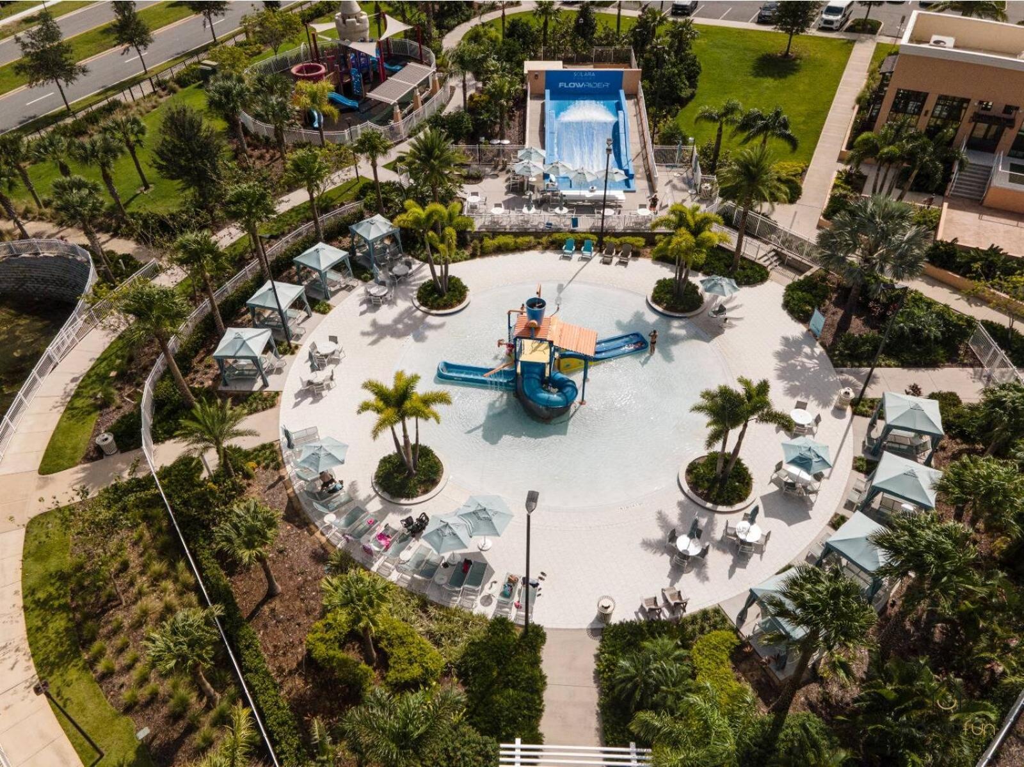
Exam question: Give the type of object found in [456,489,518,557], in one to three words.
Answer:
umbrella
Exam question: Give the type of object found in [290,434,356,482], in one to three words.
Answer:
umbrella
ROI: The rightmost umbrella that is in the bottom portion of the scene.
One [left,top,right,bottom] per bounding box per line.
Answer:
[772,435,841,499]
